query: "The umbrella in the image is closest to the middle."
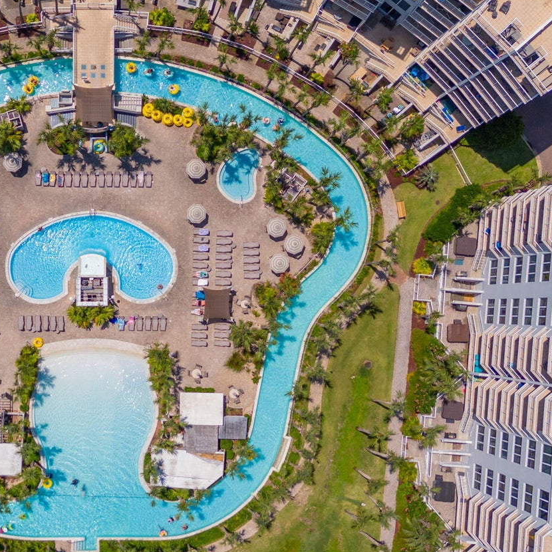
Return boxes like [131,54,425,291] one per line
[268,253,290,274]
